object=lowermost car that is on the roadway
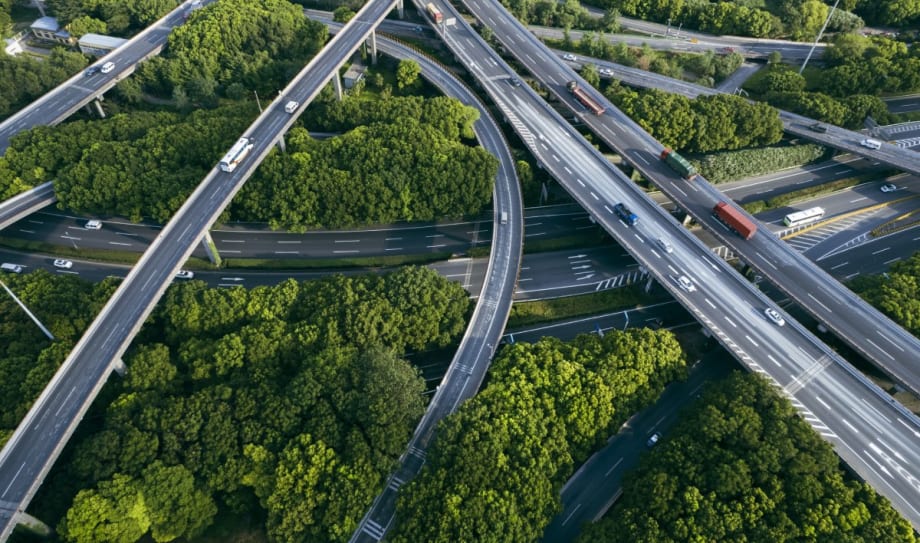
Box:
[644,431,661,450]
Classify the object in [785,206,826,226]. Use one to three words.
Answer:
vehicle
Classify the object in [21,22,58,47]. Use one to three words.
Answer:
building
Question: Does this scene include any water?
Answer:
No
